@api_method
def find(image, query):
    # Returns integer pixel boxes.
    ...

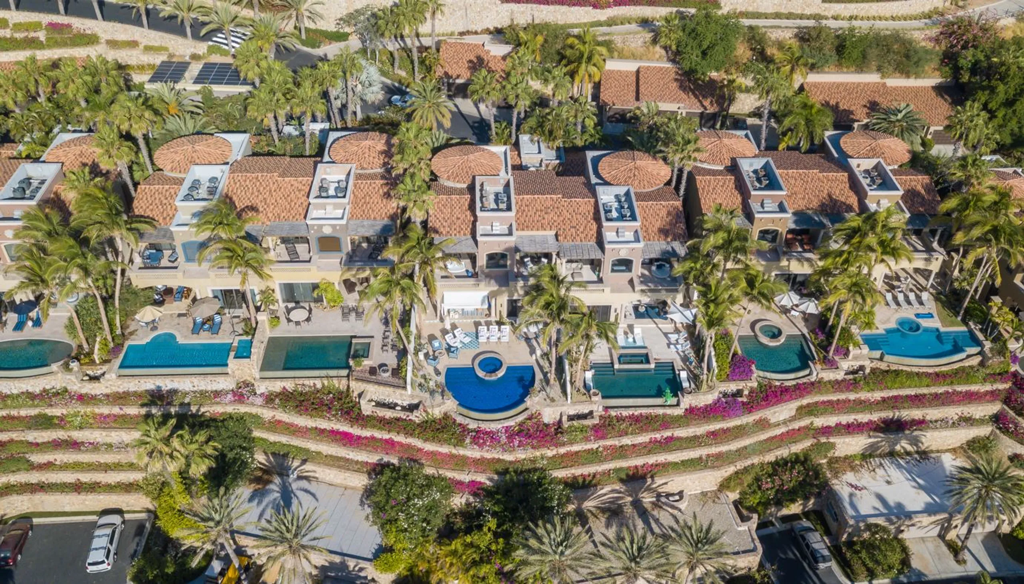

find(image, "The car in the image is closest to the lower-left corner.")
[0,513,41,573]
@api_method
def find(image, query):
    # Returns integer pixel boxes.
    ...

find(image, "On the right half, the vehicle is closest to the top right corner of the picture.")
[728,113,757,138]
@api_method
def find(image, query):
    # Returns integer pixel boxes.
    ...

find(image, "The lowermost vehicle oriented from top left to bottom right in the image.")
[786,516,839,579]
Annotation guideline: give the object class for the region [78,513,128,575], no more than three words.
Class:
car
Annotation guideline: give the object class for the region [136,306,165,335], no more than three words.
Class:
umbrella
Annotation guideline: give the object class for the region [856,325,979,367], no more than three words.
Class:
swimming pool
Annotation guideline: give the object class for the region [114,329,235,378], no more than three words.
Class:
swimming pool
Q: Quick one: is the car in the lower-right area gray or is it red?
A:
gray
